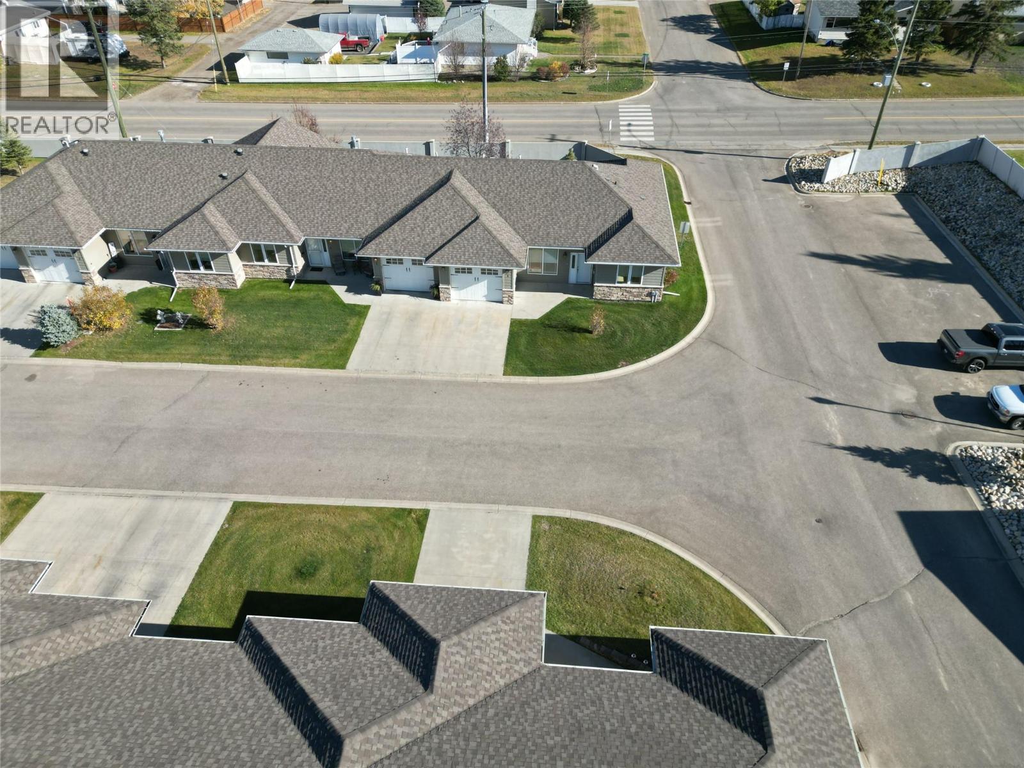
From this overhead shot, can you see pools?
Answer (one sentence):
No, there isn't any pool down there.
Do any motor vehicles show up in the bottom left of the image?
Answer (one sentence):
No, looking in the bottom left of the image, there is no motor vehicle.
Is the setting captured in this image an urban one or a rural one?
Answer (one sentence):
The area is urban.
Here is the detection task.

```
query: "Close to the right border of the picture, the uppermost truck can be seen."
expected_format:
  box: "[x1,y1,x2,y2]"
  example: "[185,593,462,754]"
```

[936,318,1024,371]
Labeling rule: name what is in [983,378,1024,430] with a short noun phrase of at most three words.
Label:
truck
